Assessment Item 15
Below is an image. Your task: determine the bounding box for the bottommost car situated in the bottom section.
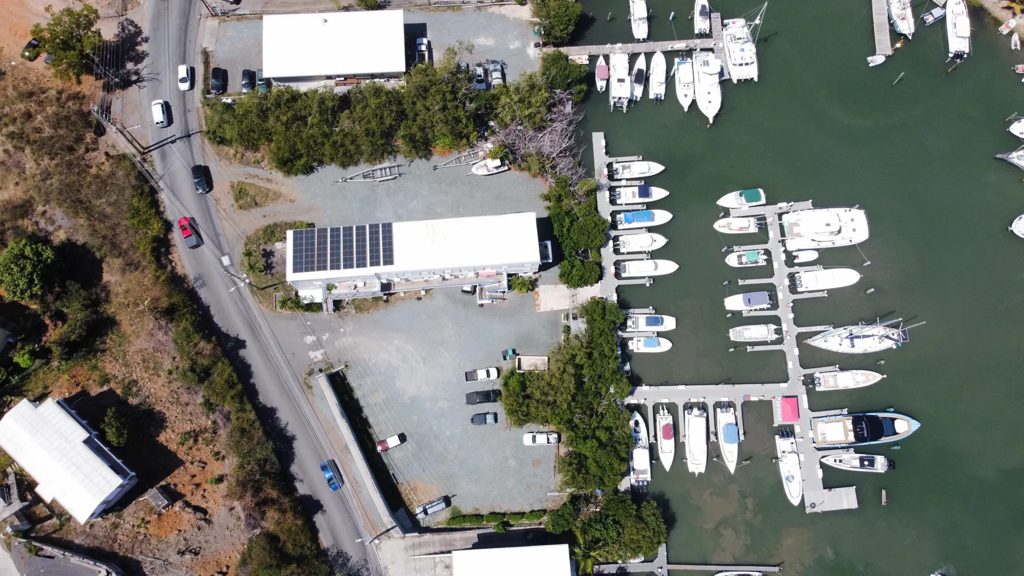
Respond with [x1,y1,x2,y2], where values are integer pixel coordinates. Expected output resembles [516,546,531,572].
[416,496,450,518]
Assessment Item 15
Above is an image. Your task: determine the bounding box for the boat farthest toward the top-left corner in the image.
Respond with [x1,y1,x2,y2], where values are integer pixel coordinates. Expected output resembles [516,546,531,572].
[472,161,519,177]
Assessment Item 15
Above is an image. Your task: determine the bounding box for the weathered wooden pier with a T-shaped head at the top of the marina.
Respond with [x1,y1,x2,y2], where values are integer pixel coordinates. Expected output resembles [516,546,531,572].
[545,13,728,81]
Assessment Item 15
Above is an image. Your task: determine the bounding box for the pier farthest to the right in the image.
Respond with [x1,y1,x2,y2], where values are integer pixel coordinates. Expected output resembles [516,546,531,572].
[872,0,892,57]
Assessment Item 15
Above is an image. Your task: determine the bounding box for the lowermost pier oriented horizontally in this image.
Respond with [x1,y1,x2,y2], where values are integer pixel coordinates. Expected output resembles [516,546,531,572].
[593,547,779,576]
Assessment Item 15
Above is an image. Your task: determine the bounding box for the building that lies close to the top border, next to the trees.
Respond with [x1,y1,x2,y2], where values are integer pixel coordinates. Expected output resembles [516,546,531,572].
[263,9,406,89]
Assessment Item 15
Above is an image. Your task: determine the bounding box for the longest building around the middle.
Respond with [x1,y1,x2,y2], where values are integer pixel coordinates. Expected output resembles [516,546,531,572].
[287,212,540,312]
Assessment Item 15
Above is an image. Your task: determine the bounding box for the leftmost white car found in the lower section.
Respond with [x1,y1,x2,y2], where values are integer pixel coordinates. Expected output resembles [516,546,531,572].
[375,432,406,454]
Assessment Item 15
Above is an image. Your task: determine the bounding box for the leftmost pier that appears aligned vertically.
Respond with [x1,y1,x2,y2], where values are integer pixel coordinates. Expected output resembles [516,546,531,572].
[592,132,657,484]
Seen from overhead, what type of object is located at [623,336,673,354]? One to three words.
boat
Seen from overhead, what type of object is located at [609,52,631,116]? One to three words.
boat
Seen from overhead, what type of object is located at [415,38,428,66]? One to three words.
vehicle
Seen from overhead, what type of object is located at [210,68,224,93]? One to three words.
car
